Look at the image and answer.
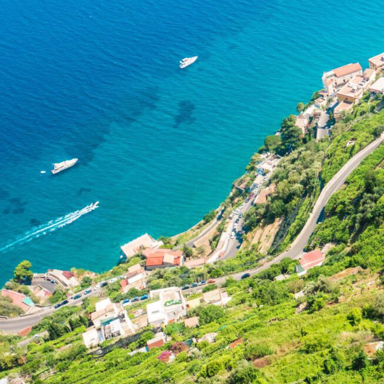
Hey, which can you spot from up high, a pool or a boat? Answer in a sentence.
Looking from above, you can make out a boat.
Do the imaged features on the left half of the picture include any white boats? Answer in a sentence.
Yes, you'll find a white boat on the left half of the picture.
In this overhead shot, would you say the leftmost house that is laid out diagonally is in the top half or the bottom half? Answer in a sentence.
The leftmost house that is laid out diagonally sits in the bottom half of the picture.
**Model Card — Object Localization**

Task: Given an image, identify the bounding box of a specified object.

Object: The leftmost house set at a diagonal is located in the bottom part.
[3,287,36,316]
